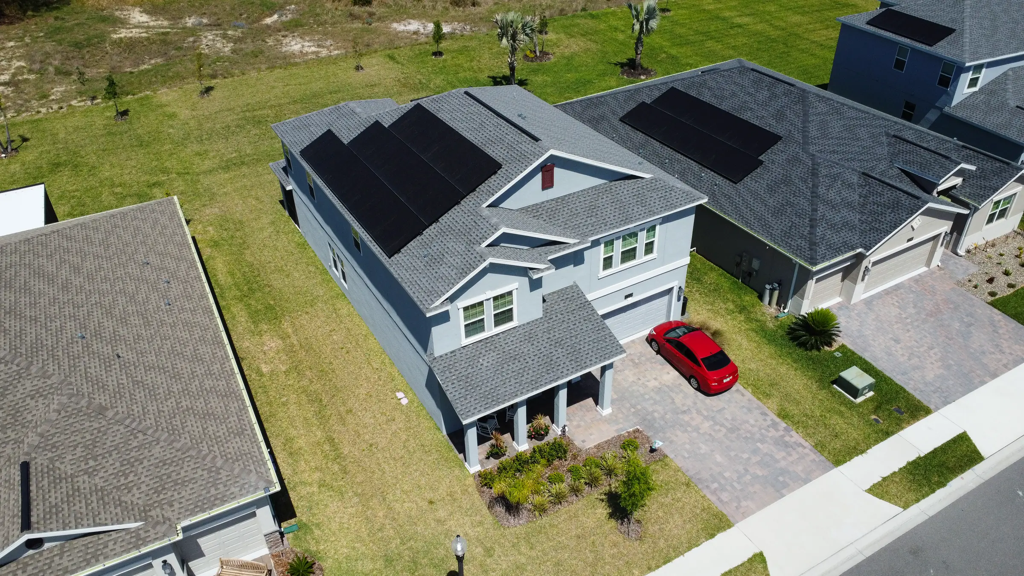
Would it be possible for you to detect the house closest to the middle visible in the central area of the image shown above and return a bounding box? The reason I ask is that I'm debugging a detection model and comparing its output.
[269,84,712,473]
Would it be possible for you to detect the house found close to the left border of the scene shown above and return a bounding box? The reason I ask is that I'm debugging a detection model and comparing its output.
[0,185,283,576]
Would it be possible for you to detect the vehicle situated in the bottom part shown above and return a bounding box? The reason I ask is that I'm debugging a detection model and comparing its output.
[651,319,743,395]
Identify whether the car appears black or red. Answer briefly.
red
